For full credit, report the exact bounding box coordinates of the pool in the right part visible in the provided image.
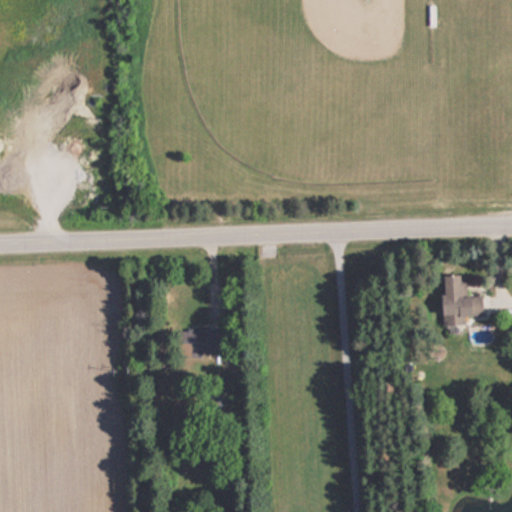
[470,327,497,346]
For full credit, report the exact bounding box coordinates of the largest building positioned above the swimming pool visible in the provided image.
[444,274,484,328]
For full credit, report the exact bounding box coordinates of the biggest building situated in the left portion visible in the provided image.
[184,329,218,358]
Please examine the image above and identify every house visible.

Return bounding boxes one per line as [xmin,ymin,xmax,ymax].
[184,329,218,358]
[444,274,484,328]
